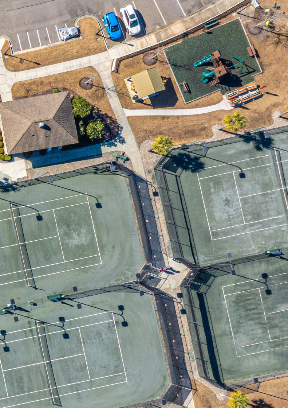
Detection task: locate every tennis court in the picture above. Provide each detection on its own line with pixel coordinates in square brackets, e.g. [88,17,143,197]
[0,278,172,408]
[181,247,288,385]
[0,164,147,308]
[156,126,288,267]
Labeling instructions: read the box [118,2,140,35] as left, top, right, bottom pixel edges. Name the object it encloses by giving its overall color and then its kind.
white car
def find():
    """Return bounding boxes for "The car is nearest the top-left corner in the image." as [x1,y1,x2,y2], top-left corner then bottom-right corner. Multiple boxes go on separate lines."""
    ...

[101,11,122,41]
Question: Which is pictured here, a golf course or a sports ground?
sports ground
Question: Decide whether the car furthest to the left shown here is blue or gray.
blue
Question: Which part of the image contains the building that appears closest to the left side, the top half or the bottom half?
top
